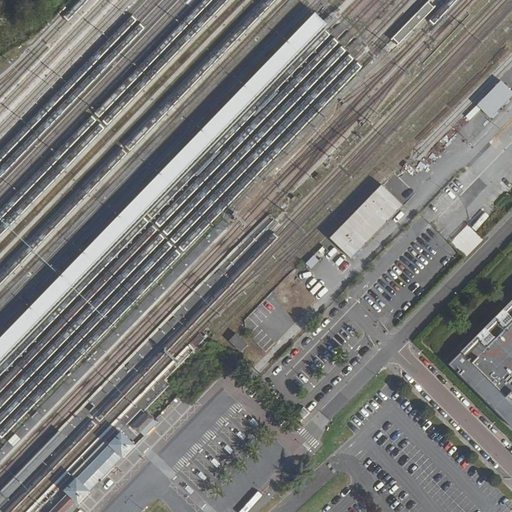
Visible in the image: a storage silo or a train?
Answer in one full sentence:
There is a train in the scene.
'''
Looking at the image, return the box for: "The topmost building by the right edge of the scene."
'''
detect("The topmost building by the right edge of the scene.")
[478,81,512,118]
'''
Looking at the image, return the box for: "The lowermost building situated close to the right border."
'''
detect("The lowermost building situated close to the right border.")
[448,298,512,425]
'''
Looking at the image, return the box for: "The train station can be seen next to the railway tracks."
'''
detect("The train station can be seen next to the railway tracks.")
[0,0,282,512]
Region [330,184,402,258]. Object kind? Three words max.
building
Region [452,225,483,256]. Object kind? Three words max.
building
